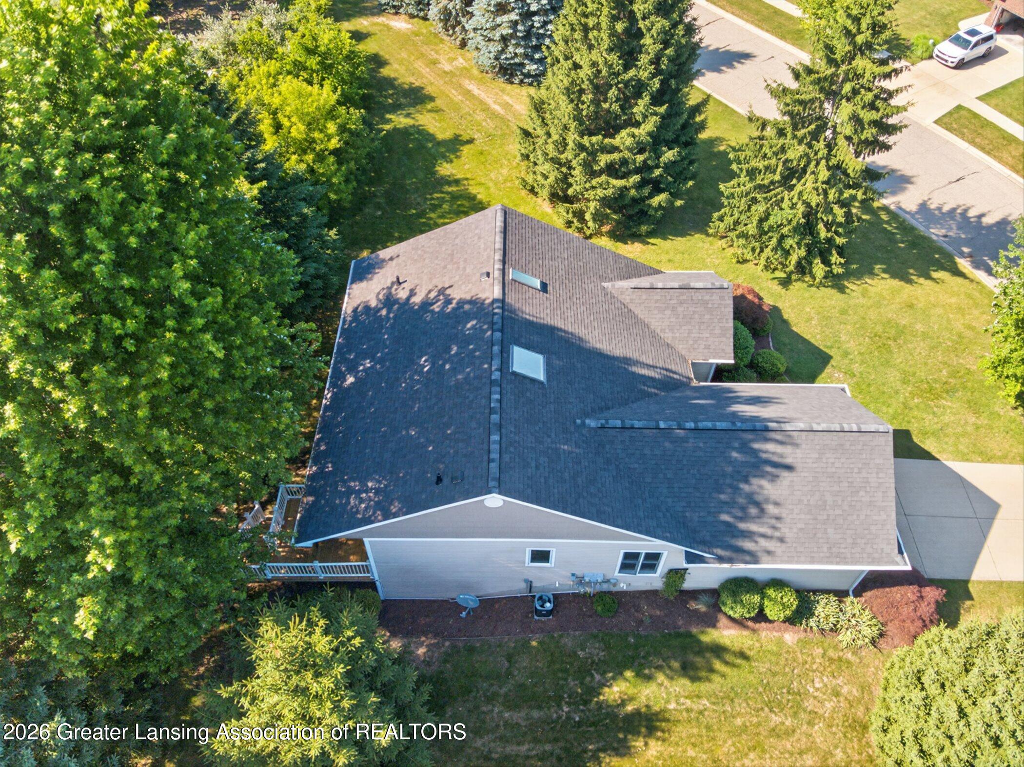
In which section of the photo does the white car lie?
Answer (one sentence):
Look in the top right portion of the view to spot the white car.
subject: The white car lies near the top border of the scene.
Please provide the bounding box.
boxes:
[928,17,994,64]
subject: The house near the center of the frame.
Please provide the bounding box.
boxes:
[291,205,913,604]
